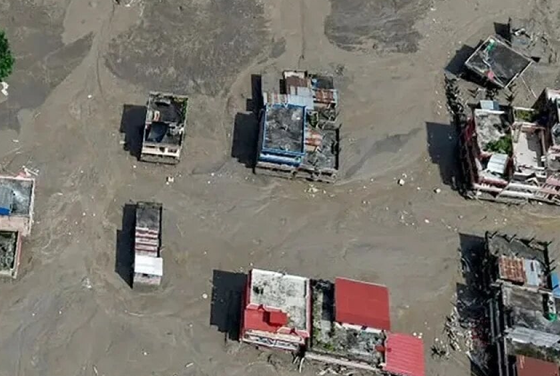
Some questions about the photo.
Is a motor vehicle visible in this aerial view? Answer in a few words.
No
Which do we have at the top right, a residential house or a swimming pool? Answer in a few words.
residential house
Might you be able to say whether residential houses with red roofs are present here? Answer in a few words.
Yes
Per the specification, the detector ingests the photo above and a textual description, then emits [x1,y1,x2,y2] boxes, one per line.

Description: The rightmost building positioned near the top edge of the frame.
[503,19,553,65]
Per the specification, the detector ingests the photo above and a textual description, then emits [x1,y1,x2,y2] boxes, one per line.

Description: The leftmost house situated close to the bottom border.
[236,270,310,359]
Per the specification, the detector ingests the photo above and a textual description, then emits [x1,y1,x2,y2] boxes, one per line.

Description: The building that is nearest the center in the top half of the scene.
[257,72,339,181]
